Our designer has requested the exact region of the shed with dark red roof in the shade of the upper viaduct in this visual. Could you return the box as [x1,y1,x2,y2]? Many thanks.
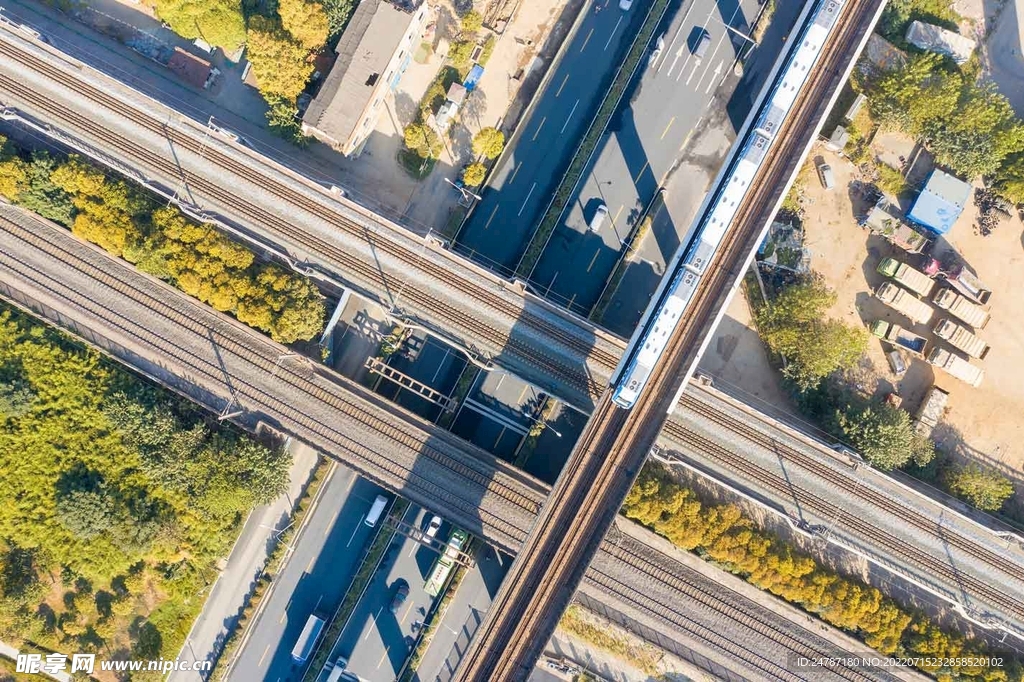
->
[167,45,218,93]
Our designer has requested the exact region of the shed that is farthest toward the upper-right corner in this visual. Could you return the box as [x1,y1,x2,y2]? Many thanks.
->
[895,20,975,72]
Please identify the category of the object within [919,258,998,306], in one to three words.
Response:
truck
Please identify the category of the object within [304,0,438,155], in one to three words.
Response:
building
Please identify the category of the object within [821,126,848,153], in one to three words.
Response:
shed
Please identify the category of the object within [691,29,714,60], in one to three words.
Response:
car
